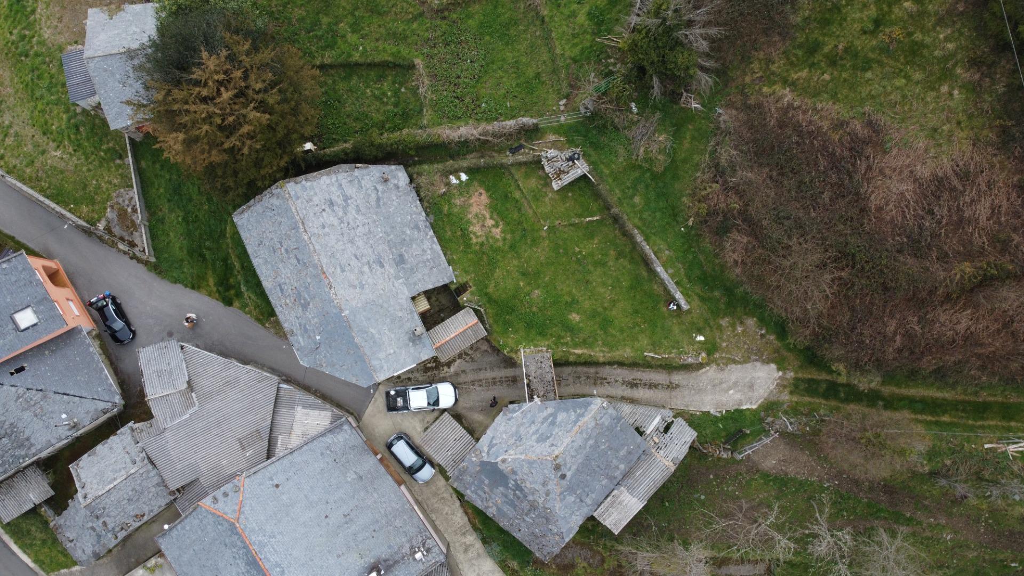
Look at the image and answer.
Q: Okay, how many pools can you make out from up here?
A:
zero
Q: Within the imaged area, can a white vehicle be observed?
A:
Yes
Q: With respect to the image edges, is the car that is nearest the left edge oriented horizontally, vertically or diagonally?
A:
diagonally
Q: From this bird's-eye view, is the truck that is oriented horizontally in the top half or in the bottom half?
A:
bottom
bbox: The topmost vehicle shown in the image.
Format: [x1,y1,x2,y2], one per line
[84,290,143,346]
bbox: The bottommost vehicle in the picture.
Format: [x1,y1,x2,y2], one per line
[385,430,435,483]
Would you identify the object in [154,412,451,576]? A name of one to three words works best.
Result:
house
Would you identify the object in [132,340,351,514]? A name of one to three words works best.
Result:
barn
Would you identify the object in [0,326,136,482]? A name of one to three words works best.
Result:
house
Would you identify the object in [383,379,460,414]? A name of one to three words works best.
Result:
truck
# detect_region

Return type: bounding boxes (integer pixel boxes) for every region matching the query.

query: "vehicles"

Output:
[383,379,460,414]
[84,290,143,346]
[385,430,435,483]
